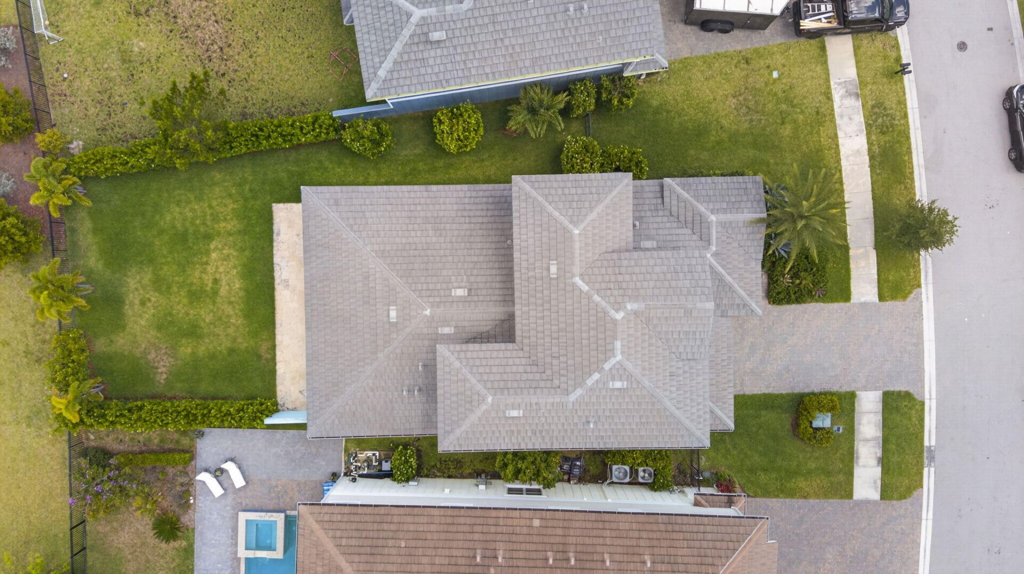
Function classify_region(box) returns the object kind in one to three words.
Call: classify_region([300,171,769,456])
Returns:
house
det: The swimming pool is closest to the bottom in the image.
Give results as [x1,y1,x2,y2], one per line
[237,546,294,574]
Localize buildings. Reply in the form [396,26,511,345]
[293,476,782,574]
[339,0,670,117]
[300,171,769,456]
